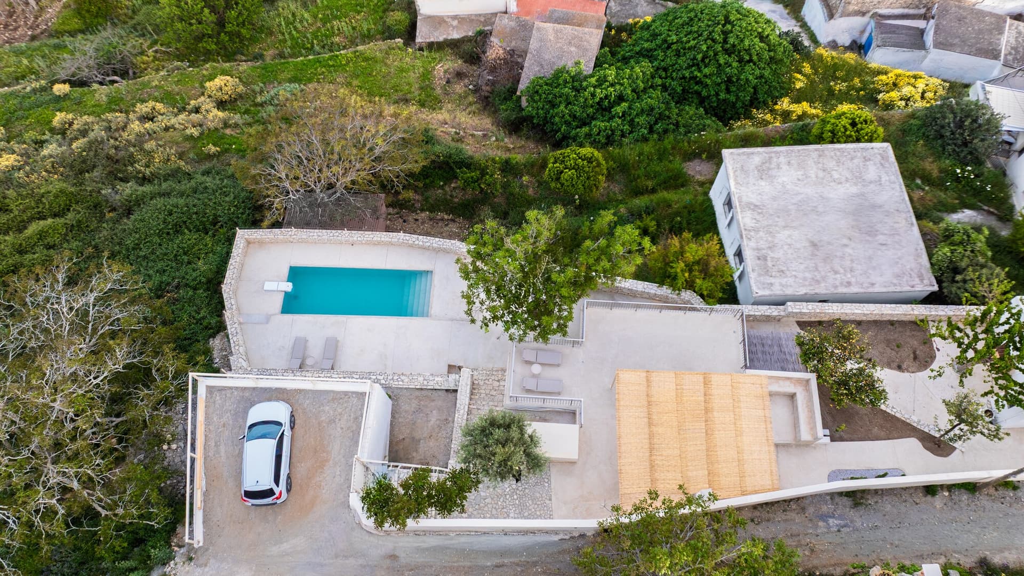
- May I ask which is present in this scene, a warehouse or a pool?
pool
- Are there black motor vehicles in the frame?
No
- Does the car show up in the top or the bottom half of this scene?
bottom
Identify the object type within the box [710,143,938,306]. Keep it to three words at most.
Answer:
house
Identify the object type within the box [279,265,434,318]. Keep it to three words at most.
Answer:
swimming pool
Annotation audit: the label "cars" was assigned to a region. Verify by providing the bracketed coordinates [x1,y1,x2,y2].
[240,405,294,510]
